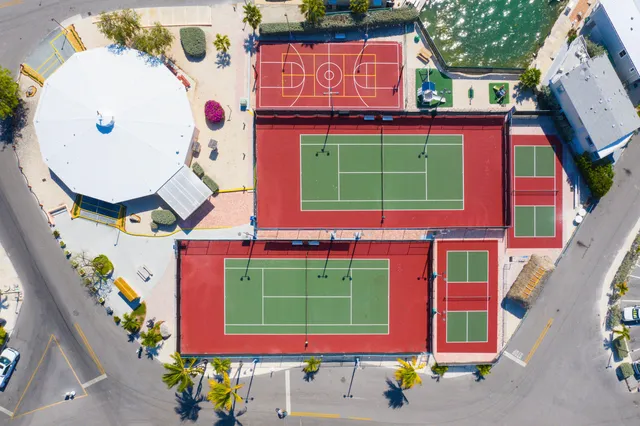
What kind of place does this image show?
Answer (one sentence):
The picture captures a sports ground.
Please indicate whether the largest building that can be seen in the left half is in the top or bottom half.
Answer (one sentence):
The largest building that can be seen in the left half is in the top half of the image.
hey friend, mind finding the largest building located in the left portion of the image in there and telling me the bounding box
[35,46,199,206]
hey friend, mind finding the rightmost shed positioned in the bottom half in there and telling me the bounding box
[502,249,553,311]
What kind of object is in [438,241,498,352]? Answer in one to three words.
sports court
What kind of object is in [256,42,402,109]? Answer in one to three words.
basketball court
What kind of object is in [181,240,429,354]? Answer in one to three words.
tennis court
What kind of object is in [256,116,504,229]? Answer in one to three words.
tennis court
